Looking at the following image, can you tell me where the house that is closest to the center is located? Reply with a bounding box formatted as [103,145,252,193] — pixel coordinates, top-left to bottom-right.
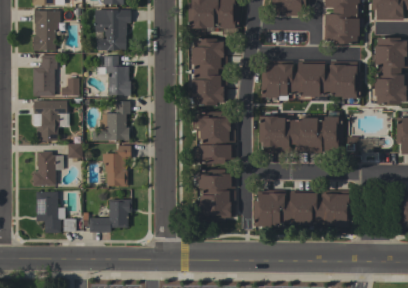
[198,116,237,166]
